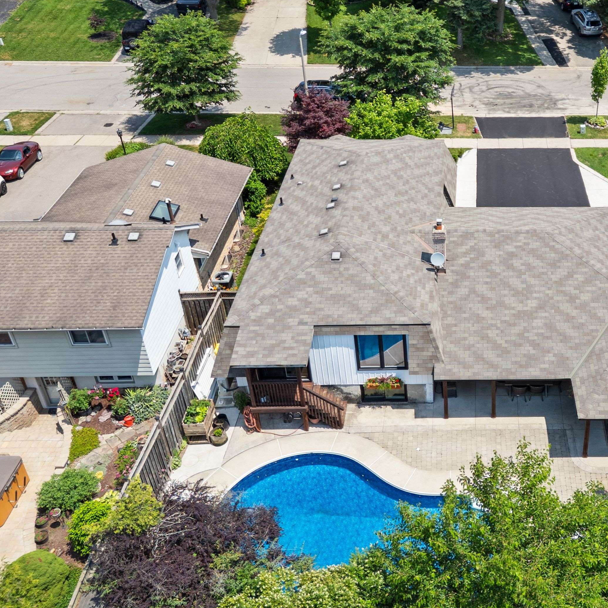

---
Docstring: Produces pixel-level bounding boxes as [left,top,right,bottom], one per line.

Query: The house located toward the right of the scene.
[212,131,608,458]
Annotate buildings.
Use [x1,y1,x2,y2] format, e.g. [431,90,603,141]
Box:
[0,145,251,402]
[212,131,608,458]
